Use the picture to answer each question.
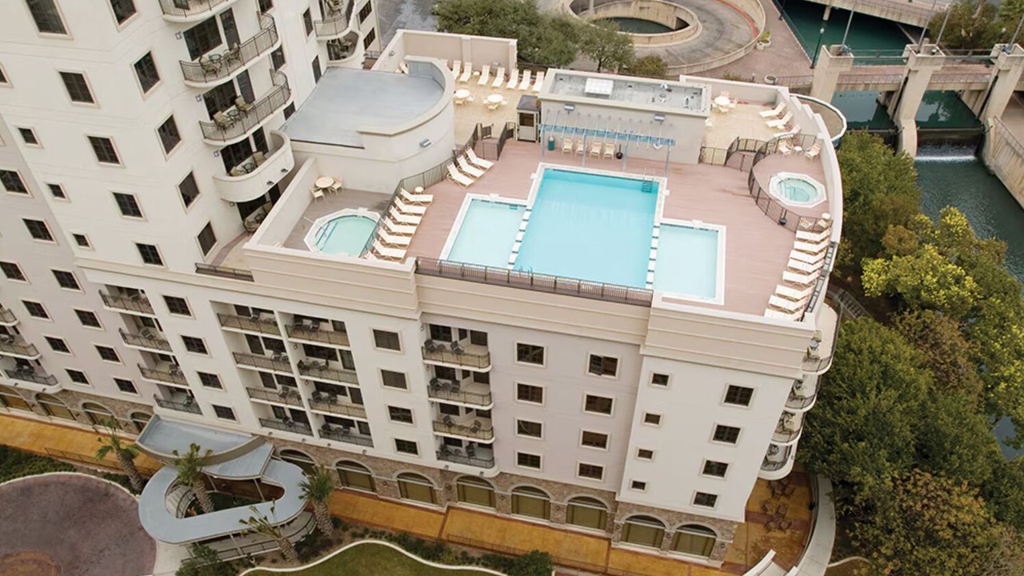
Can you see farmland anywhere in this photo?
No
